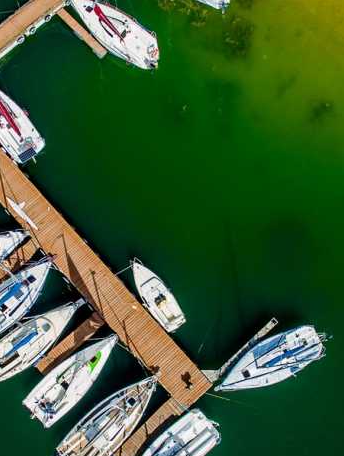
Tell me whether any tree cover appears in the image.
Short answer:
No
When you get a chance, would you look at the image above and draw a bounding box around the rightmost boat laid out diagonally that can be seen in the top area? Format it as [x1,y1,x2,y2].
[71,0,162,78]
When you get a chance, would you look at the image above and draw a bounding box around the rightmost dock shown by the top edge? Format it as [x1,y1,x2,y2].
[57,6,107,60]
